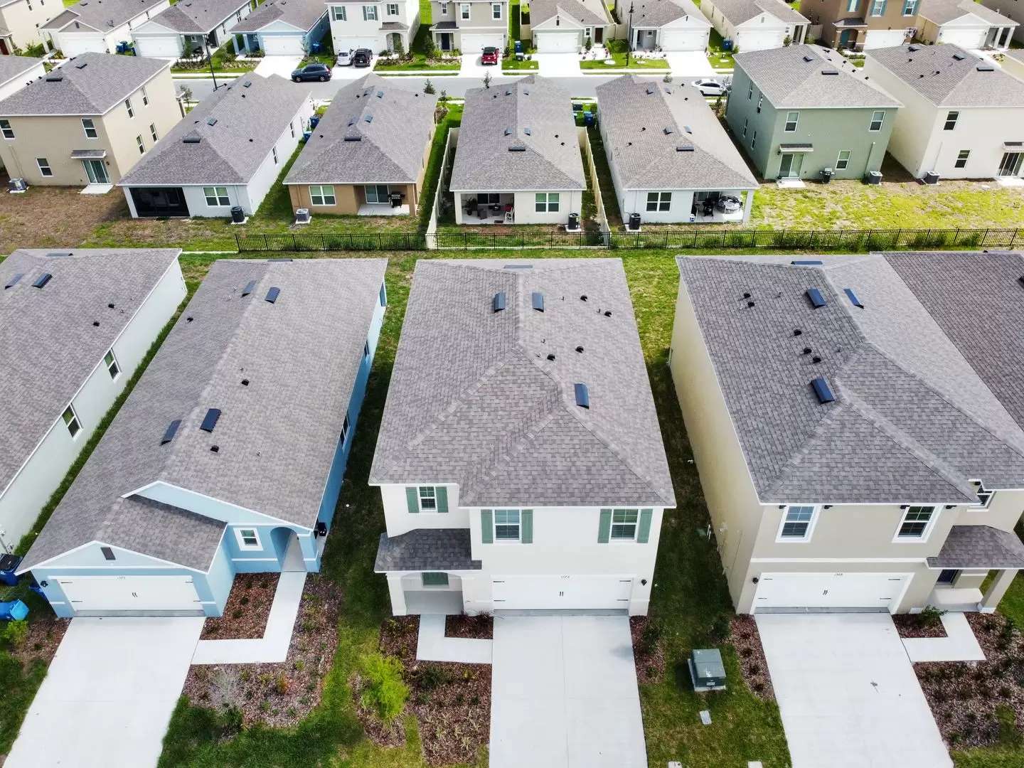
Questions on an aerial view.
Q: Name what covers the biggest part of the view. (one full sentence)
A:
The scene is dominated by buildings.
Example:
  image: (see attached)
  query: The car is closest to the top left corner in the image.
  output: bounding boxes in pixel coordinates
[286,63,335,84]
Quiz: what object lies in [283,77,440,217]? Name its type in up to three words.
house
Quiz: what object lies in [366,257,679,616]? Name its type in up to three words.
house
